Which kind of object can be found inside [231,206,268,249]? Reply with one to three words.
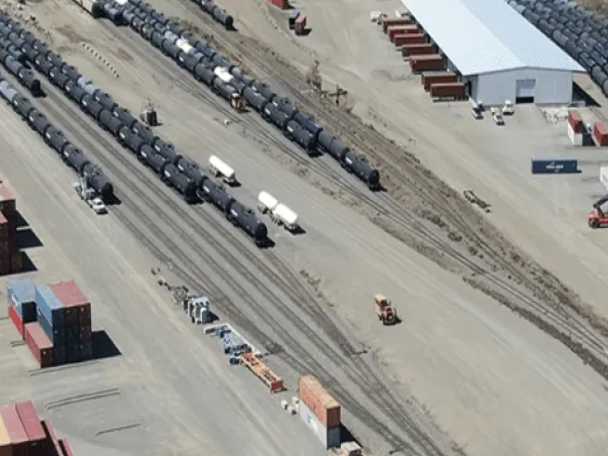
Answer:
rail car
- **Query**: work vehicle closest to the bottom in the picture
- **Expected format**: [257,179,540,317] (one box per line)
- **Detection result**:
[373,292,404,325]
